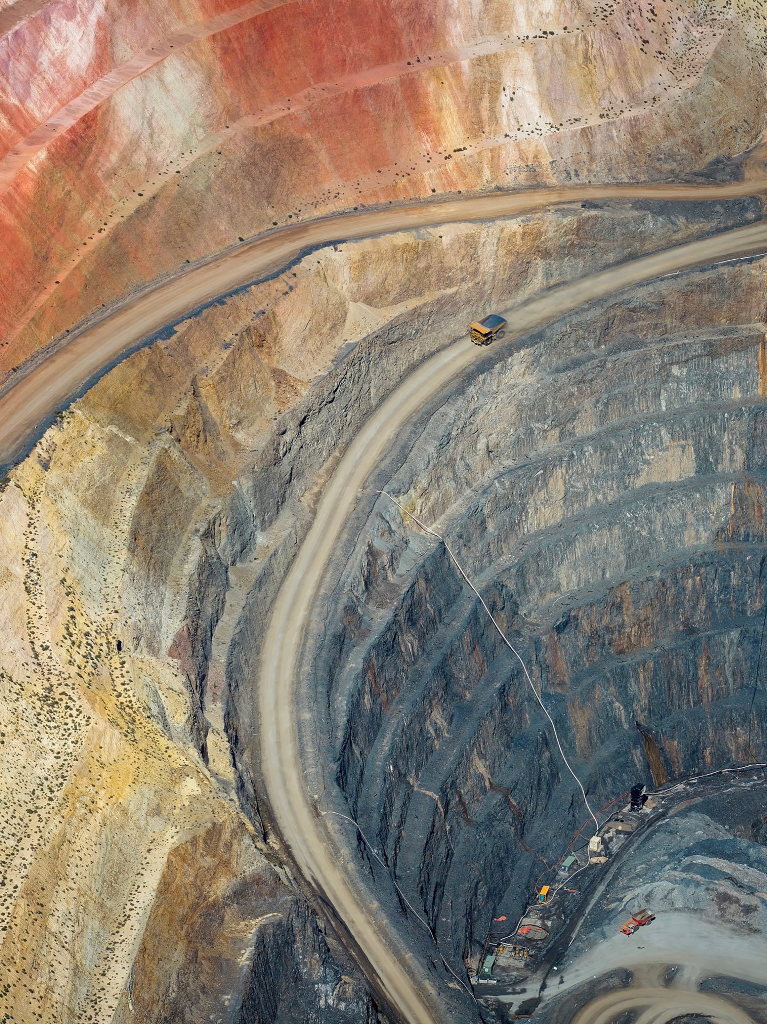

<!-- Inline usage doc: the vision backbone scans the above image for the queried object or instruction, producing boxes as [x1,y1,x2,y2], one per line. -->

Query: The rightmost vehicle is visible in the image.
[622,911,655,937]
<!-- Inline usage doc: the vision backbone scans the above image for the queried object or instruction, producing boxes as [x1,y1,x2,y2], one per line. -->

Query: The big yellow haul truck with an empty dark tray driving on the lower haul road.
[468,312,509,344]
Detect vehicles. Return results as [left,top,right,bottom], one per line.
[622,911,655,937]
[468,312,509,344]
